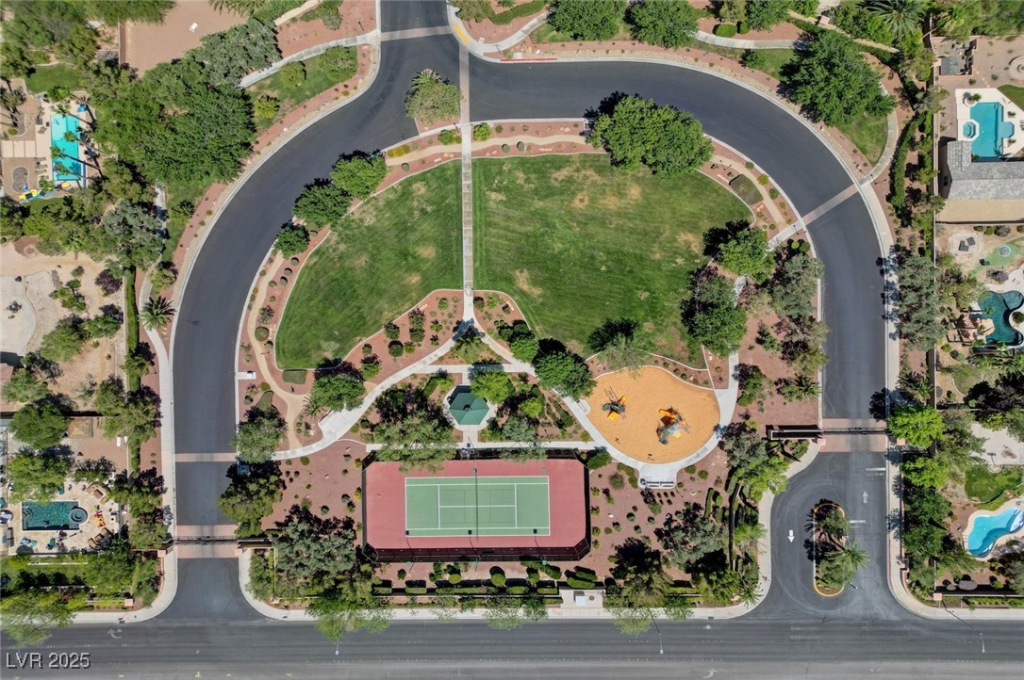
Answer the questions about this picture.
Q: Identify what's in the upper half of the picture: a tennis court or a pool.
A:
pool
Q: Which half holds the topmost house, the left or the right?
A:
right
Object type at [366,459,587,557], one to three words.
tennis court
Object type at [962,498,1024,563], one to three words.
swimming pool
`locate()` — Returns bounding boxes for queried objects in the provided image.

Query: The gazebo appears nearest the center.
[449,392,490,426]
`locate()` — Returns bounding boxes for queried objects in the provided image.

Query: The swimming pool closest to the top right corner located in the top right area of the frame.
[955,88,1024,159]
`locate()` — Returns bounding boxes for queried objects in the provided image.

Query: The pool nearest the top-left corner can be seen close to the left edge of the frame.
[35,98,99,193]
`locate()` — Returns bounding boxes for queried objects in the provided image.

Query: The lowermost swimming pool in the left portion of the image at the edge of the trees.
[8,477,121,553]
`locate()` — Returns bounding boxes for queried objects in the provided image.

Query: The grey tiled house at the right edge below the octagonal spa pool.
[939,139,1024,200]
